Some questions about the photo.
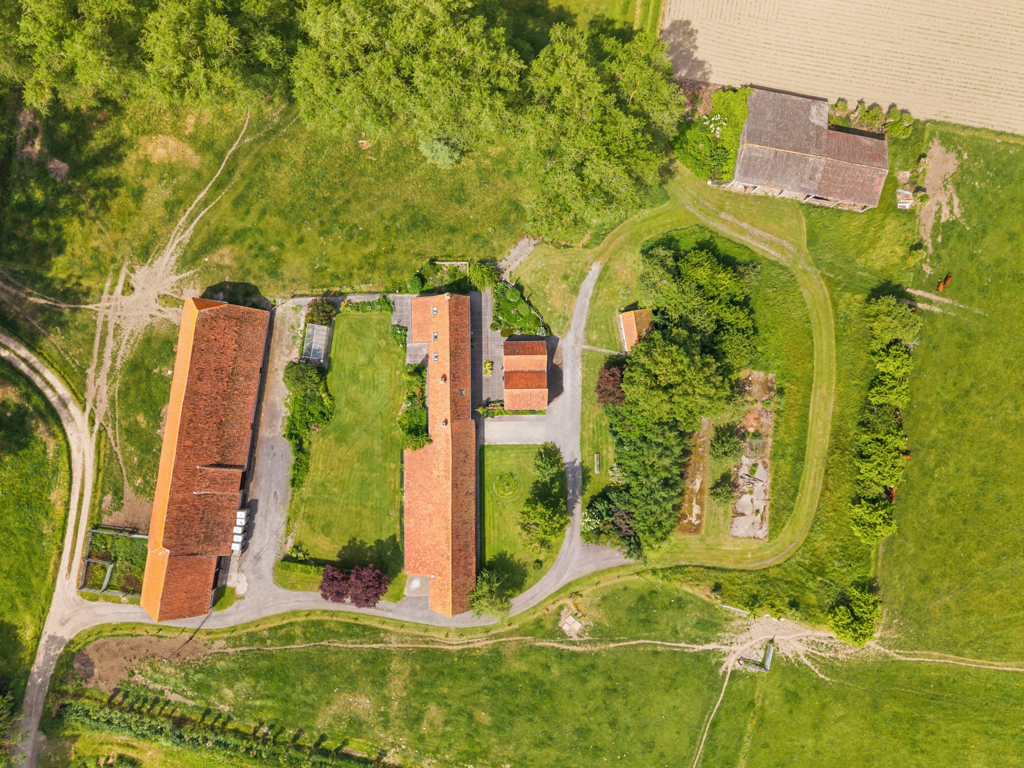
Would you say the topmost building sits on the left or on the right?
right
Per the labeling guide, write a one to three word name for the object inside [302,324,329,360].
greenhouse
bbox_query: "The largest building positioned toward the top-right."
[727,86,889,214]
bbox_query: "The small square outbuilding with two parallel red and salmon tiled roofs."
[502,340,548,410]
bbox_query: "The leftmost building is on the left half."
[140,297,270,622]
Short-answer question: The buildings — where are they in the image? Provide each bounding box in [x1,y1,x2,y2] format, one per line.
[727,86,889,214]
[619,308,657,351]
[302,324,329,360]
[502,340,548,410]
[140,297,270,622]
[403,293,477,617]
